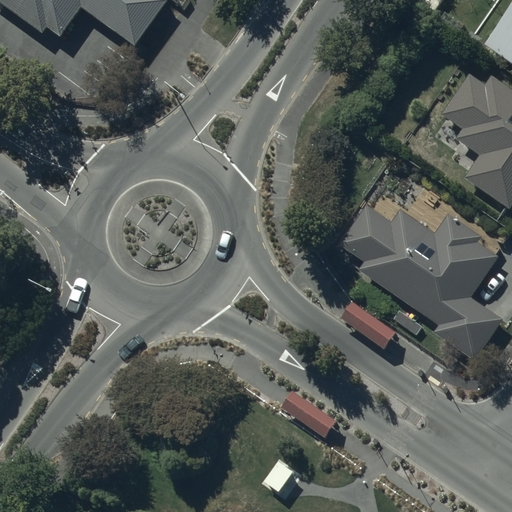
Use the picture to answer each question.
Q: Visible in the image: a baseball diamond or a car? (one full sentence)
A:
There is a car in the scene.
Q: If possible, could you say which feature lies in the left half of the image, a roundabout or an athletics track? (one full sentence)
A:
The one visible in the left half of the image is a roundabout.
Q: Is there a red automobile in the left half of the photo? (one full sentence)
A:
No, I see no red automobile in the left half of the photo.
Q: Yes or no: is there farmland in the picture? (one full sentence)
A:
No, there is no farmland in the image.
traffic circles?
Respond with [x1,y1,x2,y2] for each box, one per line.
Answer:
[106,178,214,286]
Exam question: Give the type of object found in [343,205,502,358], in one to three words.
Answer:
house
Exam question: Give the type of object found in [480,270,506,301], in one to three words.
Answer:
car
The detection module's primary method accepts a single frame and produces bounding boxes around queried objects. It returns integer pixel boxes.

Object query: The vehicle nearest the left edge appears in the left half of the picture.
[66,276,86,312]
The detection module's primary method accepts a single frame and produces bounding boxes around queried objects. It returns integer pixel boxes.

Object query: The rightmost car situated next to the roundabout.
[215,231,232,260]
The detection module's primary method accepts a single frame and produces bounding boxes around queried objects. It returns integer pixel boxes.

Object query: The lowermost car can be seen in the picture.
[118,334,145,360]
